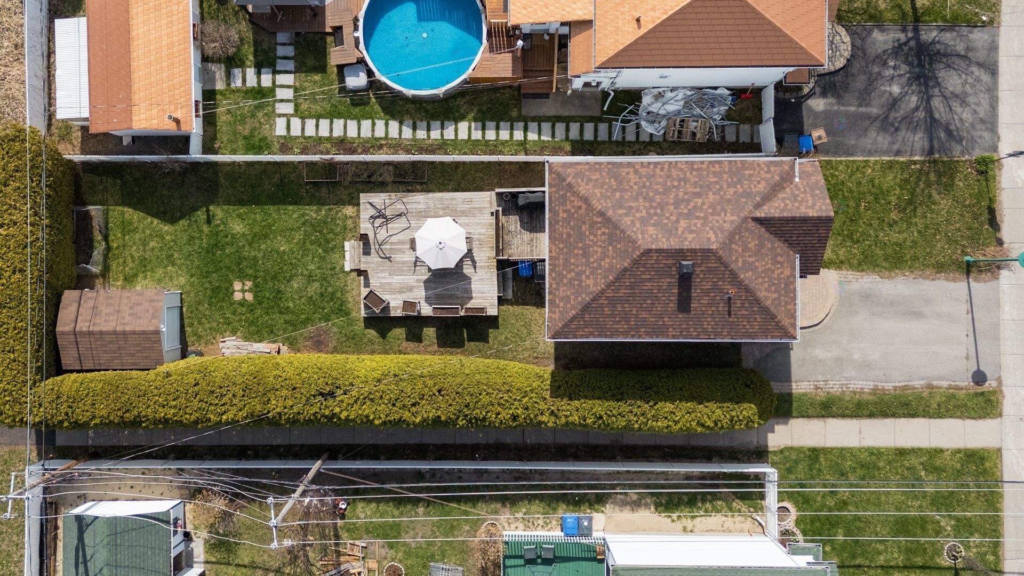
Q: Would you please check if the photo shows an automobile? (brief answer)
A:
No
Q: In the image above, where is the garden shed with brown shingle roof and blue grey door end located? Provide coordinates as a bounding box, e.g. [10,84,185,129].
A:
[56,291,182,369]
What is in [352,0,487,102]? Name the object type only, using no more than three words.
swimming pool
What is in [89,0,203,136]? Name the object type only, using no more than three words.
shed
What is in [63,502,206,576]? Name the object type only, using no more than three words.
shed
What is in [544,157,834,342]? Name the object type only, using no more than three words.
house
